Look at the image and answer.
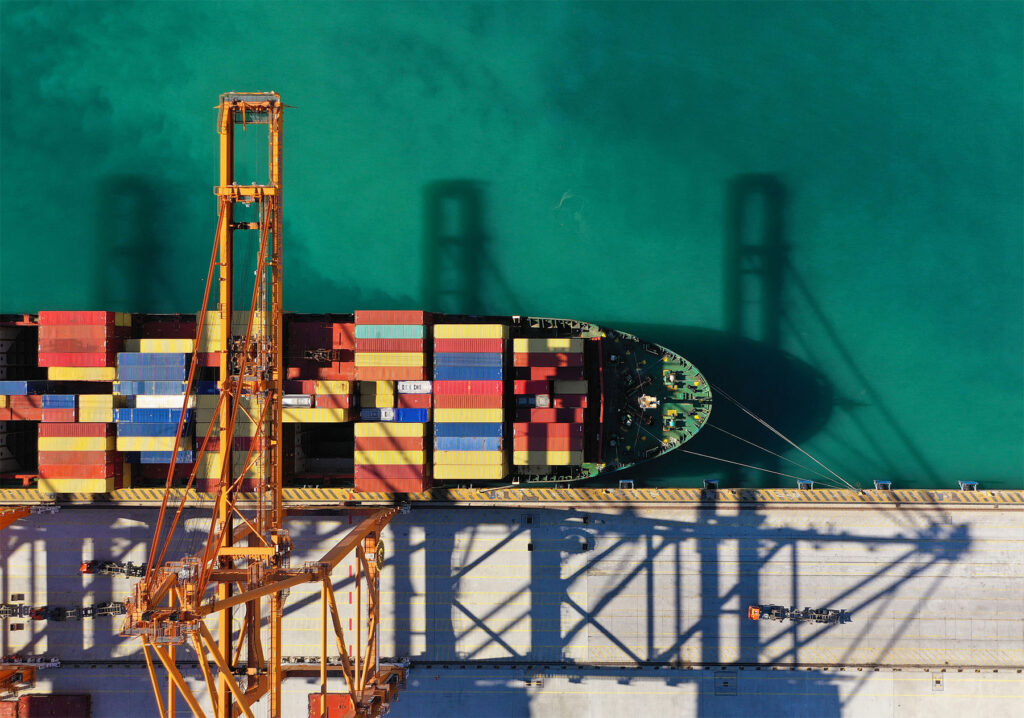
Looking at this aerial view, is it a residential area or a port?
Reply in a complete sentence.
This looks like a port.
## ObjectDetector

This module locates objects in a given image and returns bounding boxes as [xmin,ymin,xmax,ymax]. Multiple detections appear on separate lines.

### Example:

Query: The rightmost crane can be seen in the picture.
[118,94,415,718]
